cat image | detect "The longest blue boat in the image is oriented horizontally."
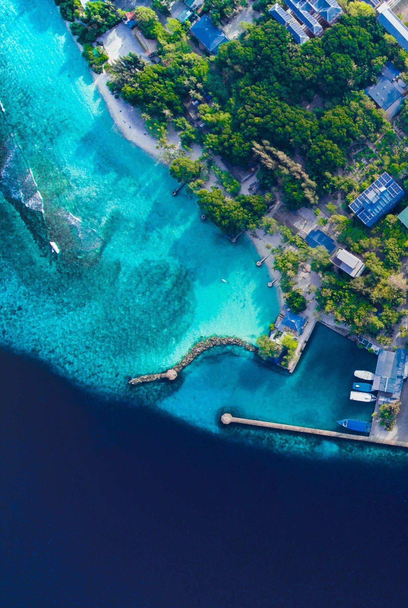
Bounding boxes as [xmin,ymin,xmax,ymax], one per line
[336,419,371,432]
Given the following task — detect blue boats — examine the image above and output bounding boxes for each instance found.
[336,419,371,432]
[352,383,372,392]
